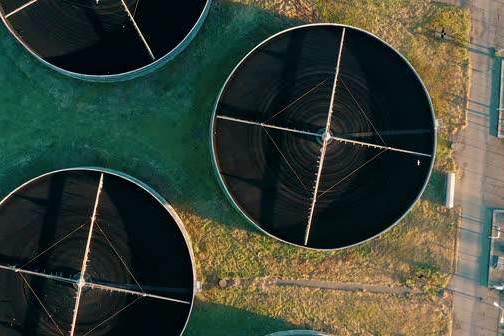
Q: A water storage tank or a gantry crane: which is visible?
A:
water storage tank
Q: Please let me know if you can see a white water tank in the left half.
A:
No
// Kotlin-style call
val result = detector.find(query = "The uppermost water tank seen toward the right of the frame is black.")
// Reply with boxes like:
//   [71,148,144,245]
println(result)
[210,24,437,250]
